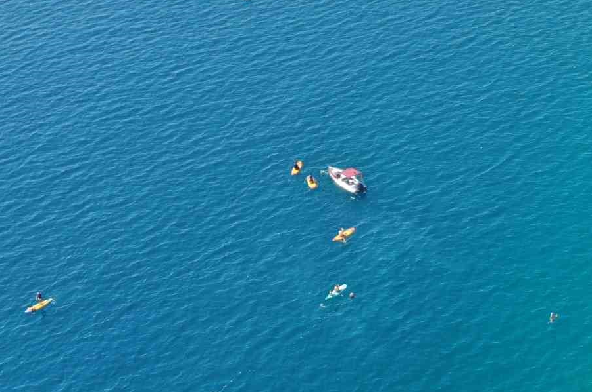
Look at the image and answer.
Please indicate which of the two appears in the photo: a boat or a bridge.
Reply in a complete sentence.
I can see a boat in this picture.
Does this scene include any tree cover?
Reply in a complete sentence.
No, tree cover can't be seen anywhere here.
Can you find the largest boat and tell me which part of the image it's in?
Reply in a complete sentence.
The largest boat sits in the center section of the image.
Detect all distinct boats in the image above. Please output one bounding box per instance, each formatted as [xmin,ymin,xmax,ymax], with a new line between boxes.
[25,298,53,312]
[291,161,302,173]
[333,227,355,239]
[306,174,318,187]
[330,164,367,195]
